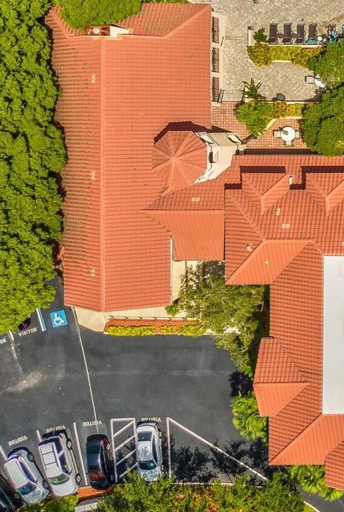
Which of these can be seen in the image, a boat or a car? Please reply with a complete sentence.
It is a car that can be seen here.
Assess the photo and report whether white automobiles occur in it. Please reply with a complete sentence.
Yes, the picture does show a white automobile.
